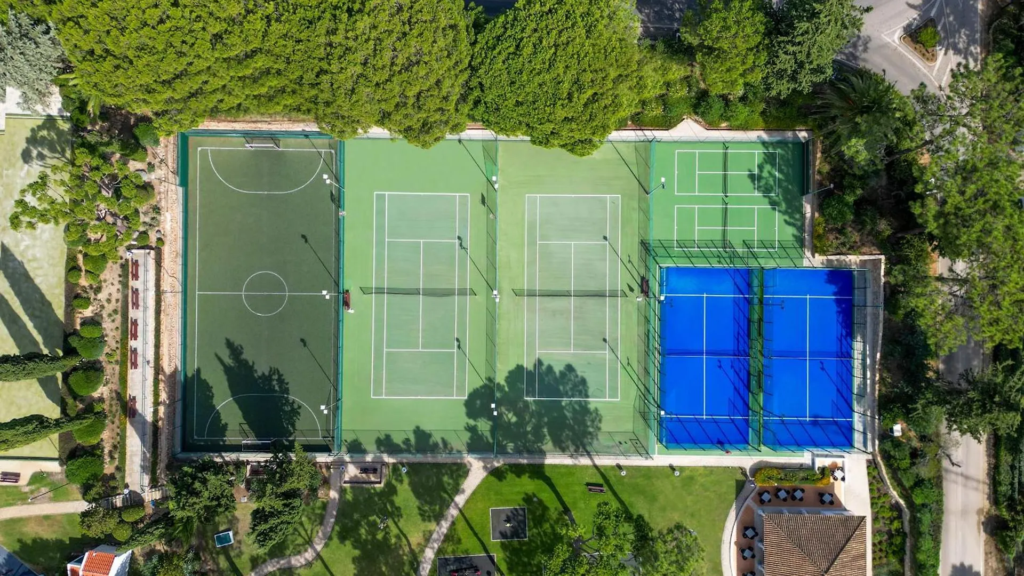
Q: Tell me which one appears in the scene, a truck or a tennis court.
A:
tennis court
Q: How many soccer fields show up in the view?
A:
1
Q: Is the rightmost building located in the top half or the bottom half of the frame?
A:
bottom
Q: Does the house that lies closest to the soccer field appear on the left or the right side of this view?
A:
left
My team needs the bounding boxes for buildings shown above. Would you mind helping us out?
[751,504,867,576]
[70,543,129,576]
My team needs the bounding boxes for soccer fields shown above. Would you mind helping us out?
[183,137,339,453]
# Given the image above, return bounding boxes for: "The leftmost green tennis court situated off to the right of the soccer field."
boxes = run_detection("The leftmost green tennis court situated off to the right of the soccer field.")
[340,140,497,455]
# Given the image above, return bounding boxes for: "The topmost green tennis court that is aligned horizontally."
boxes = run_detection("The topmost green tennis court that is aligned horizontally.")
[652,142,805,201]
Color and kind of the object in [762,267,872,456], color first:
blue sports court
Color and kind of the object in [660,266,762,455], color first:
blue sports court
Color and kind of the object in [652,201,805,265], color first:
green tennis court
